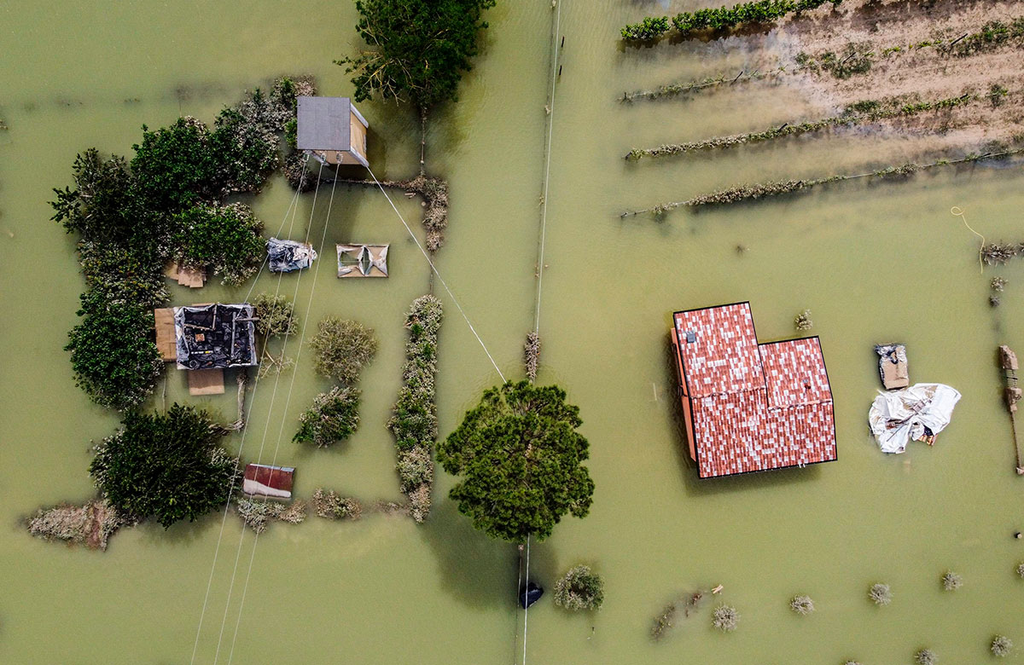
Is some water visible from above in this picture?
Yes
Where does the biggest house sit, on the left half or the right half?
right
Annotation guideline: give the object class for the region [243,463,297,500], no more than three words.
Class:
shed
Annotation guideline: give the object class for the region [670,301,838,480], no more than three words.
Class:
house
